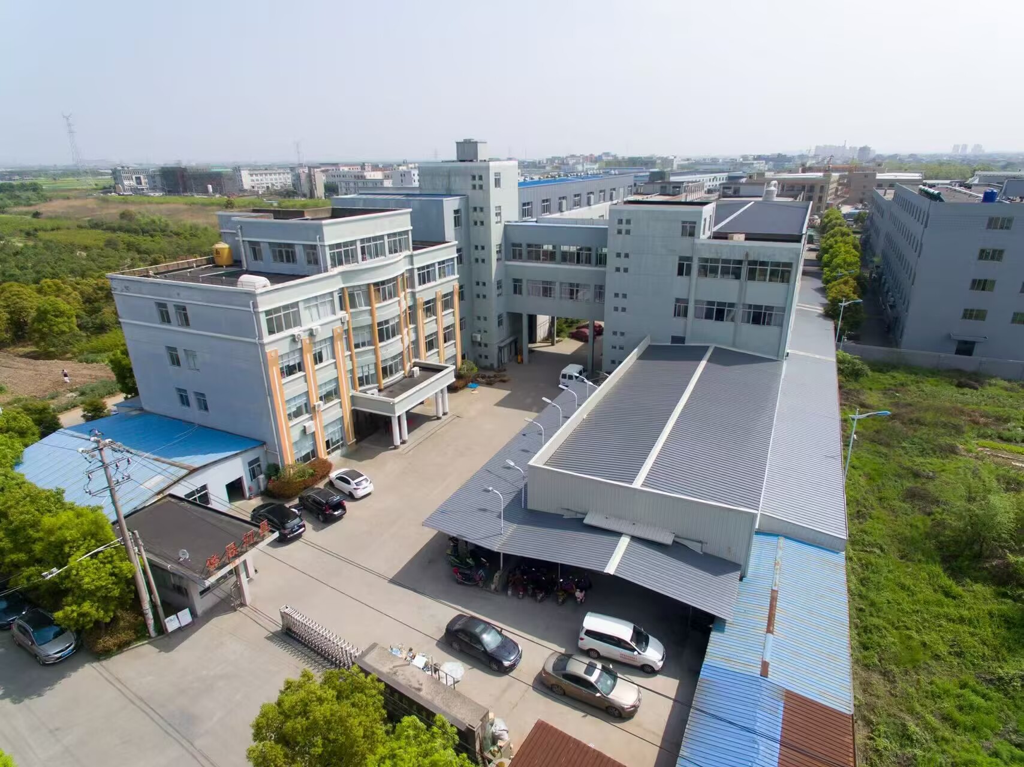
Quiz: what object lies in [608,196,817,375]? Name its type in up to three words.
building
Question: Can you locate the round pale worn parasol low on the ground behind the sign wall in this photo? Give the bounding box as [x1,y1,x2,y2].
[440,659,474,685]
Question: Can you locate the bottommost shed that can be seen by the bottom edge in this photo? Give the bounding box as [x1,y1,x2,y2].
[516,719,618,767]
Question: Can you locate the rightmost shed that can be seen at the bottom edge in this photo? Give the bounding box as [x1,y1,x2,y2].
[678,538,856,767]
